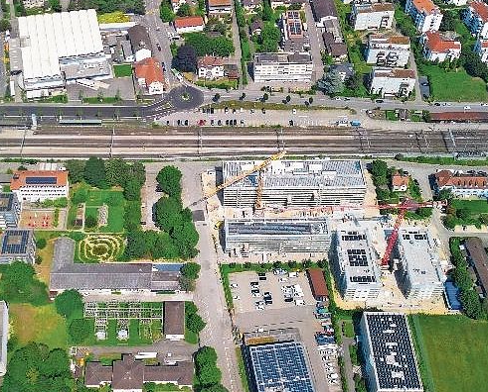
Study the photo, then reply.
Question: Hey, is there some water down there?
No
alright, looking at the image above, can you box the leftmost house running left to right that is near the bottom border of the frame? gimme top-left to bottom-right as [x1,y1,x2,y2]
[84,352,195,392]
